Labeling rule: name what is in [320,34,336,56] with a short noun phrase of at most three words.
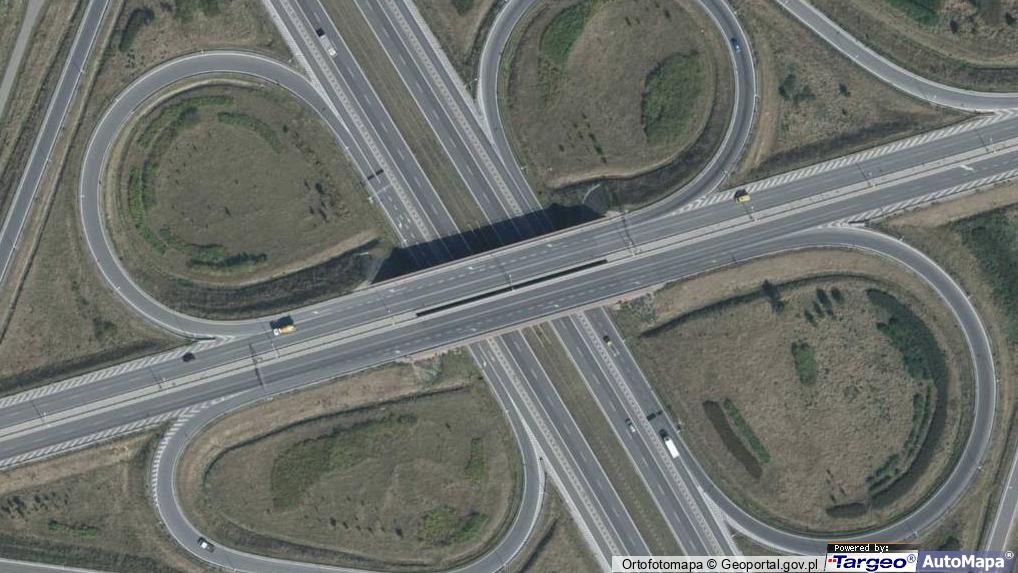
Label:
vehicle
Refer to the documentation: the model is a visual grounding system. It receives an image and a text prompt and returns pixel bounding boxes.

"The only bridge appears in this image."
[322,208,666,362]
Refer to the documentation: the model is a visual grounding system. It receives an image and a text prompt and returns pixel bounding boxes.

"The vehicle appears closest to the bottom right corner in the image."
[661,434,679,456]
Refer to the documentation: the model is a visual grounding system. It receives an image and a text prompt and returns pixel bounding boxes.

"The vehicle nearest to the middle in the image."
[605,338,619,357]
